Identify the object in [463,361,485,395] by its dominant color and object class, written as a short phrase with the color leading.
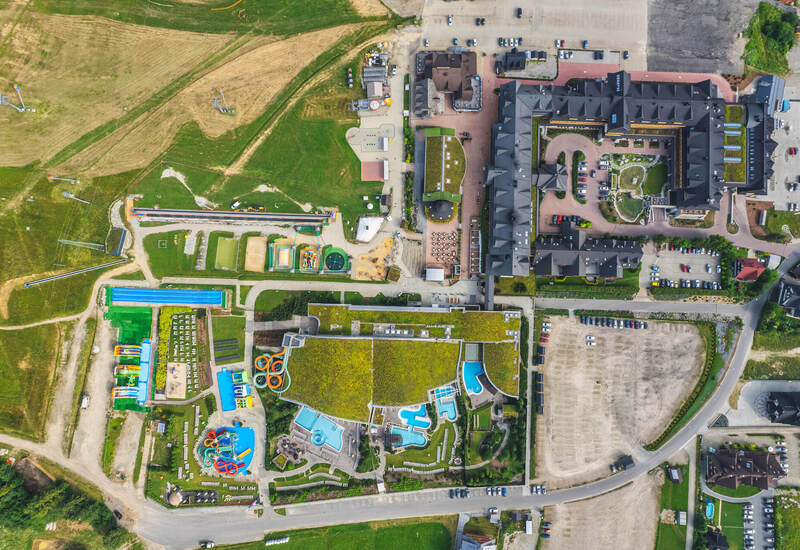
blue swimming pool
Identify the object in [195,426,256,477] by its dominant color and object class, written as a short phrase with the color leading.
blue swimming pool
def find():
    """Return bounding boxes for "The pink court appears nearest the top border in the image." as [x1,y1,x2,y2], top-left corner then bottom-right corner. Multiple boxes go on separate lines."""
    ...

[362,161,383,180]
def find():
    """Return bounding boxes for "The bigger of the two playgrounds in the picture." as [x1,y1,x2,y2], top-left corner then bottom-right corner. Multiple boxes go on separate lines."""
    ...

[355,238,394,280]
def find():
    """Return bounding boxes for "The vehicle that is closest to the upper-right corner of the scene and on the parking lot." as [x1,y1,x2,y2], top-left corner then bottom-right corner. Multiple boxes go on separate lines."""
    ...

[775,100,791,112]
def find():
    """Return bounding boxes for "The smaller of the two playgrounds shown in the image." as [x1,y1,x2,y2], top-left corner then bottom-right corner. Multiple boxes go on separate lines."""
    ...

[294,248,322,273]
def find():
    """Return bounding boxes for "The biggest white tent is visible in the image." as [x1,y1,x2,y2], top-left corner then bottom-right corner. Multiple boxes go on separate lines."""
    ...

[355,218,383,242]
